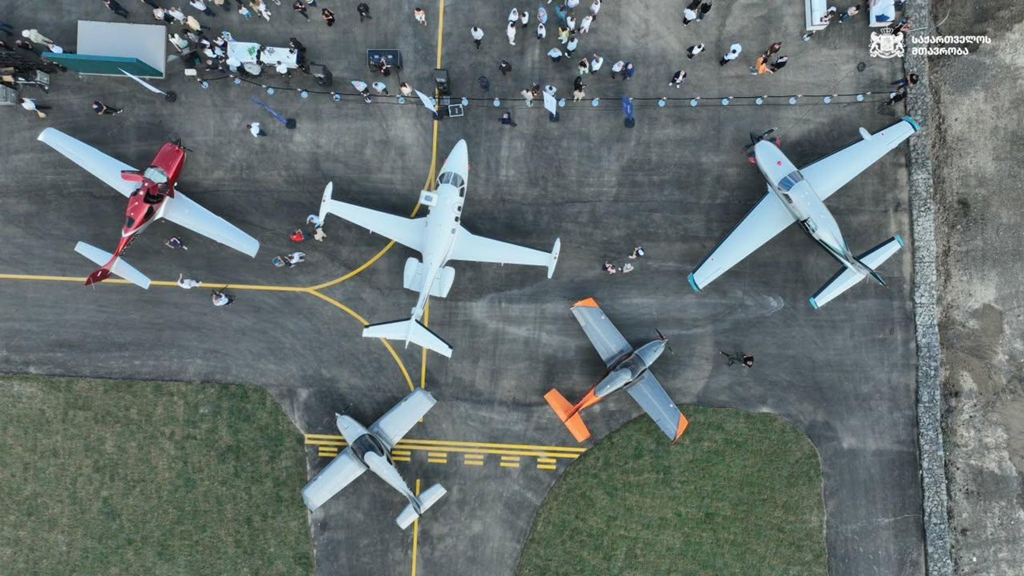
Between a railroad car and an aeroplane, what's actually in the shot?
aeroplane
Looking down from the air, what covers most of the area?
paved ground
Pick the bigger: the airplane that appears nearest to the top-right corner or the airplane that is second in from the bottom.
the airplane that appears nearest to the top-right corner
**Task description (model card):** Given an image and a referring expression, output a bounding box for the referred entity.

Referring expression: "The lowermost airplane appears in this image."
[303,388,445,533]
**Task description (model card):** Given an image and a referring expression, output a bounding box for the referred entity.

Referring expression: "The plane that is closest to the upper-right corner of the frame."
[688,117,920,308]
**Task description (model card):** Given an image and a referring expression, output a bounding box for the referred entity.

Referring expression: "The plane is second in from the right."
[546,298,688,443]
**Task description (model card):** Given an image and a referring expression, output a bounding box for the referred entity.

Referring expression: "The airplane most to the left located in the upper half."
[37,127,261,287]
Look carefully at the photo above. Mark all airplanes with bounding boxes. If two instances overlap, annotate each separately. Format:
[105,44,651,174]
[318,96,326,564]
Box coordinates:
[688,117,920,308]
[546,298,688,443]
[303,388,445,533]
[320,138,560,357]
[37,127,261,287]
